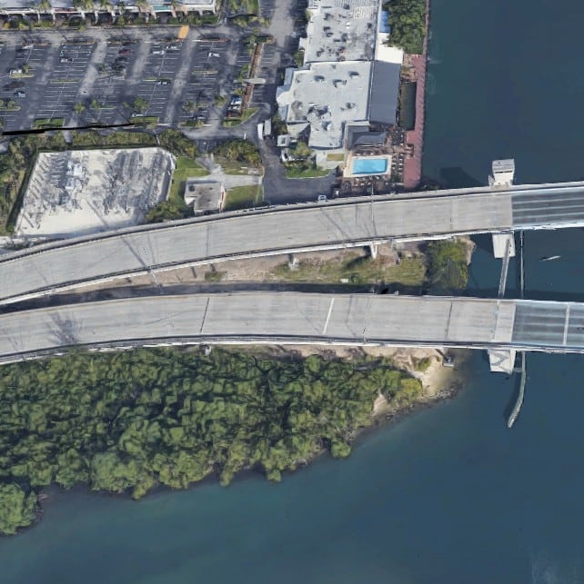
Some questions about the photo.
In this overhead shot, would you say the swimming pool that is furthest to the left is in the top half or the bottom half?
top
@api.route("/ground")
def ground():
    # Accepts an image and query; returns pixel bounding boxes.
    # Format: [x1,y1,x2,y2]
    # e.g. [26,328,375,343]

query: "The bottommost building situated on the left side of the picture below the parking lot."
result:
[186,177,227,218]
